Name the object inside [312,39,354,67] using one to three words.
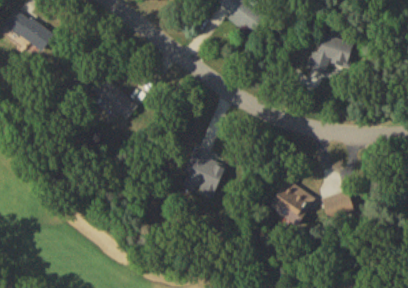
house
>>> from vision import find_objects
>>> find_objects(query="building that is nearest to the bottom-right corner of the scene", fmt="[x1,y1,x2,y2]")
[322,195,354,218]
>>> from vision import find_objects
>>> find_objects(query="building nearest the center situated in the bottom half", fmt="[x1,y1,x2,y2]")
[193,154,228,194]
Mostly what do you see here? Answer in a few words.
trees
